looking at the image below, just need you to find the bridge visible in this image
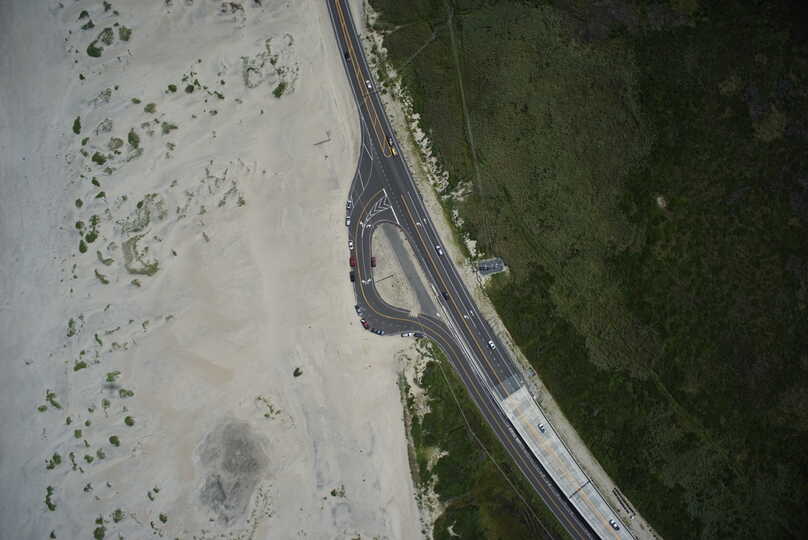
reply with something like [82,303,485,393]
[501,387,635,540]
